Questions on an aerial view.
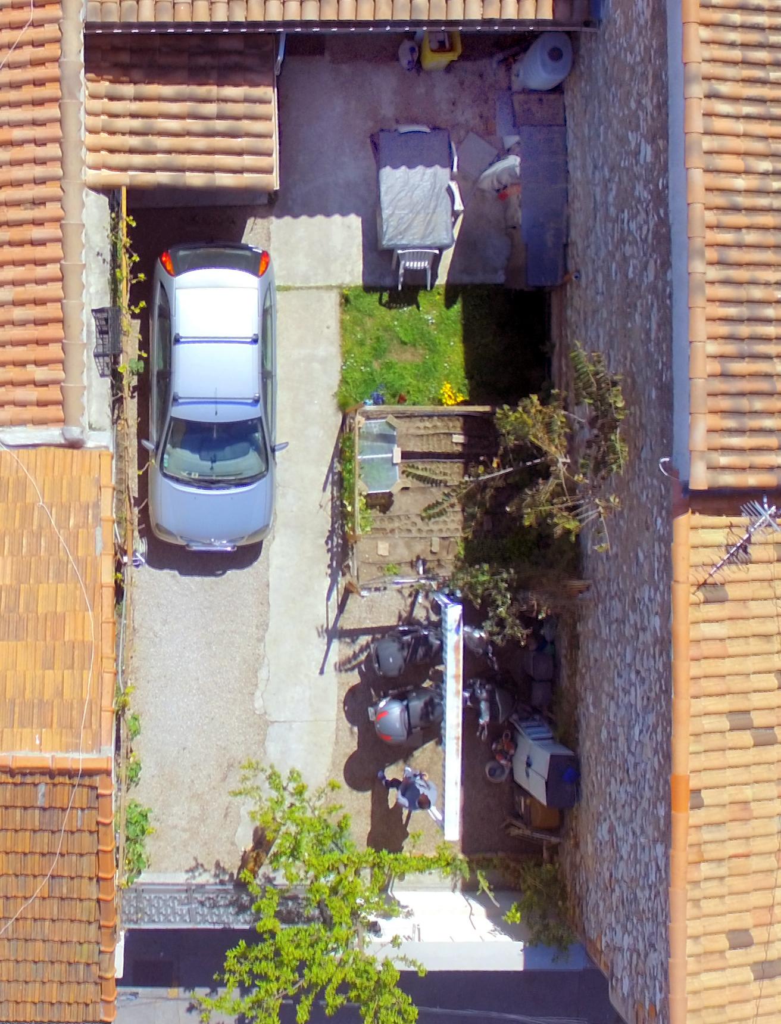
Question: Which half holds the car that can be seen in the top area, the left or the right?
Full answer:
You can find the car that can be seen in the top area on the left side of the picture.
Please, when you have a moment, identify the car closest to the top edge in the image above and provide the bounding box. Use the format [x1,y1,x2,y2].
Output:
[139,244,286,553]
